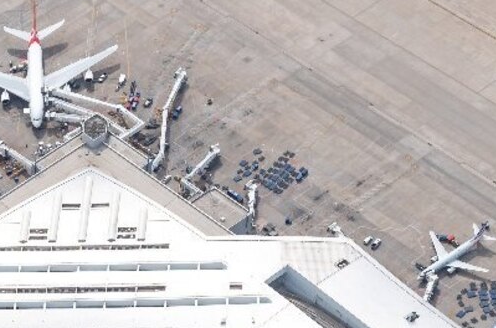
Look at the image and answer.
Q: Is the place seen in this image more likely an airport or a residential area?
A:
airport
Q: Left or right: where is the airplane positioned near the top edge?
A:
left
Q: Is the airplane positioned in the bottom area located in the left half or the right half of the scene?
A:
right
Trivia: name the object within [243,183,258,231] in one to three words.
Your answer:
jet bridge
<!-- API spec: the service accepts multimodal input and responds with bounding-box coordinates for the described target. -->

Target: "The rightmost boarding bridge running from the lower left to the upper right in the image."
[183,146,218,198]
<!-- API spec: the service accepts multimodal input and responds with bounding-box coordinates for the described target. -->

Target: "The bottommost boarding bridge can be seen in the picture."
[423,273,437,299]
